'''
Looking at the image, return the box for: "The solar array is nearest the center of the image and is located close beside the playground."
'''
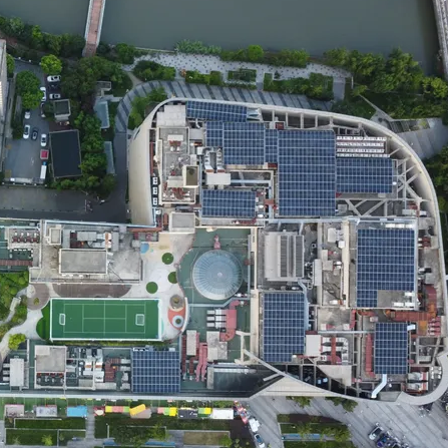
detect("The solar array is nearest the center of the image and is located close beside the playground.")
[201,190,255,218]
